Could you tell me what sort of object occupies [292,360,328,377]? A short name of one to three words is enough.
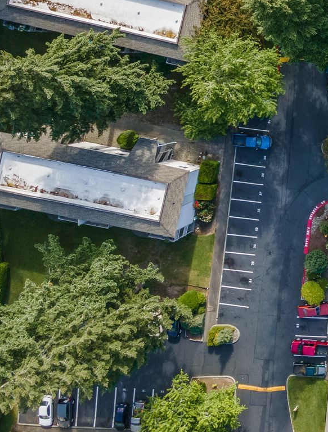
vehicle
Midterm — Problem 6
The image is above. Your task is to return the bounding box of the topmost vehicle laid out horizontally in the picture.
[232,133,272,150]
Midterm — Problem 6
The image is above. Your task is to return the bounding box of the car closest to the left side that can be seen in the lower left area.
[37,394,56,427]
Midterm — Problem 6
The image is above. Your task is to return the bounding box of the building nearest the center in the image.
[0,120,199,247]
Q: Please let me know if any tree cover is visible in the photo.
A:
Yes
